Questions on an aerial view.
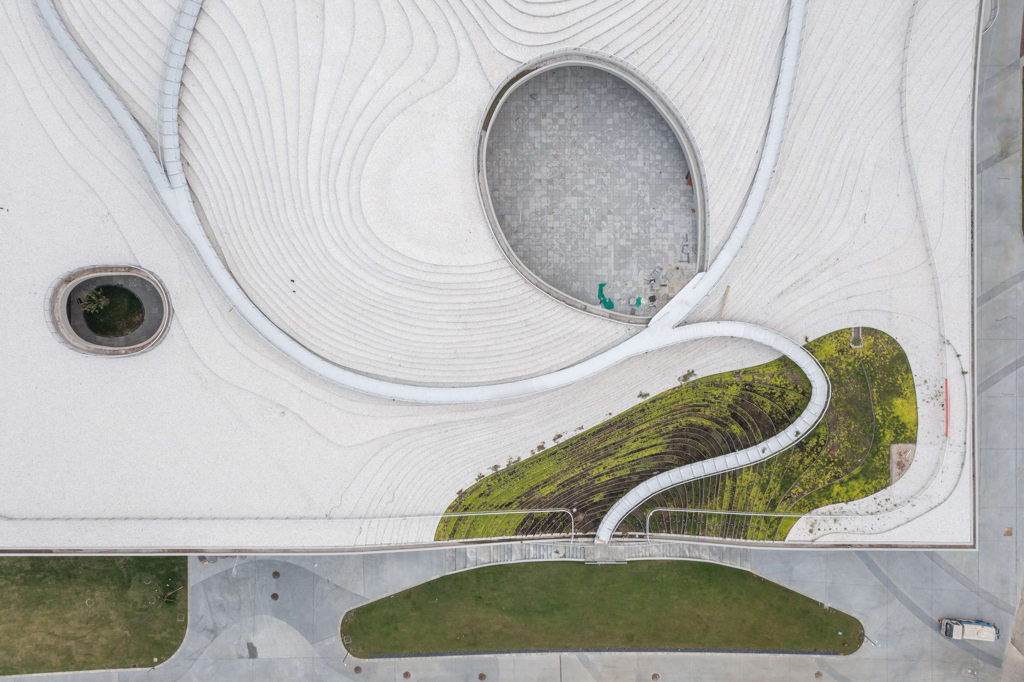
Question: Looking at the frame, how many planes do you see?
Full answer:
The picture shows no planes.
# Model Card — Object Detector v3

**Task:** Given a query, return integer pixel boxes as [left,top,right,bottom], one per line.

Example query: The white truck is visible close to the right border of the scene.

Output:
[937,614,999,640]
